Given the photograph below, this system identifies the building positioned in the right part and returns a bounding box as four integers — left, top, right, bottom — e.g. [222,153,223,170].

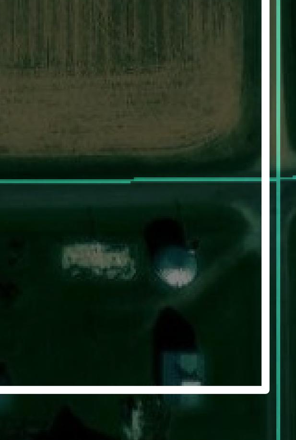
[159,350,208,414]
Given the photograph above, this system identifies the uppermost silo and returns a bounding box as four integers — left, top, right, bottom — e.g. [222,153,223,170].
[152,245,195,289]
